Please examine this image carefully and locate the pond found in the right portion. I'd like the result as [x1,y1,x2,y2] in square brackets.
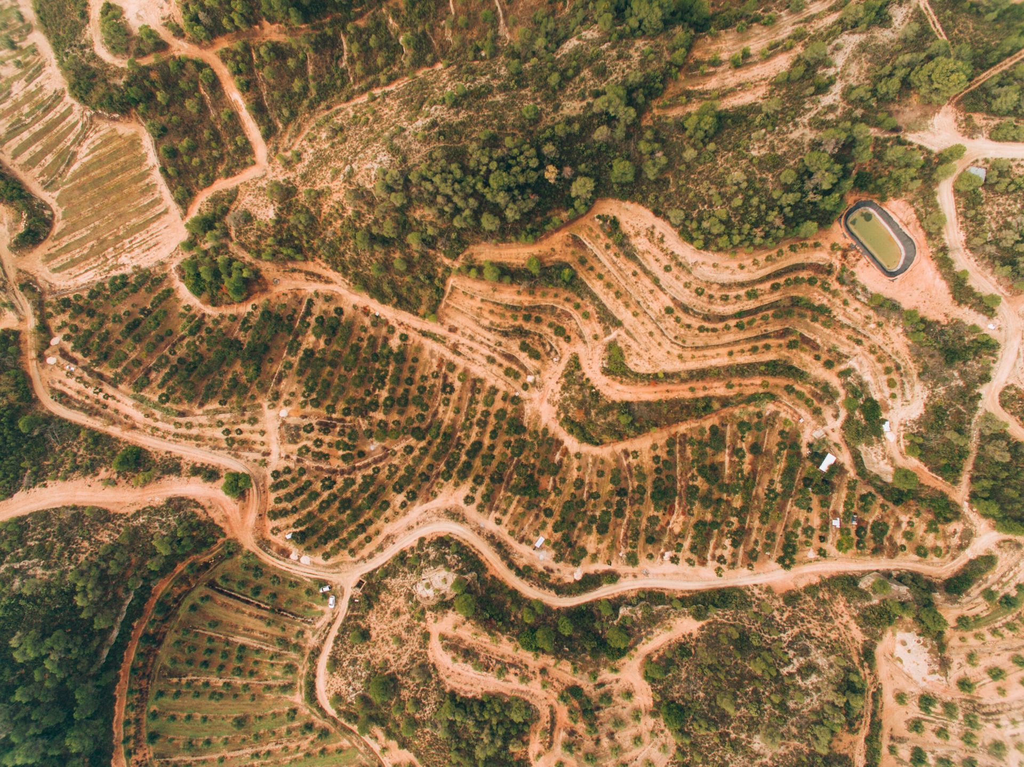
[843,200,916,277]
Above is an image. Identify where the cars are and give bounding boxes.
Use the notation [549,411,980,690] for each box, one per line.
[329,595,335,608]
[320,585,331,592]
